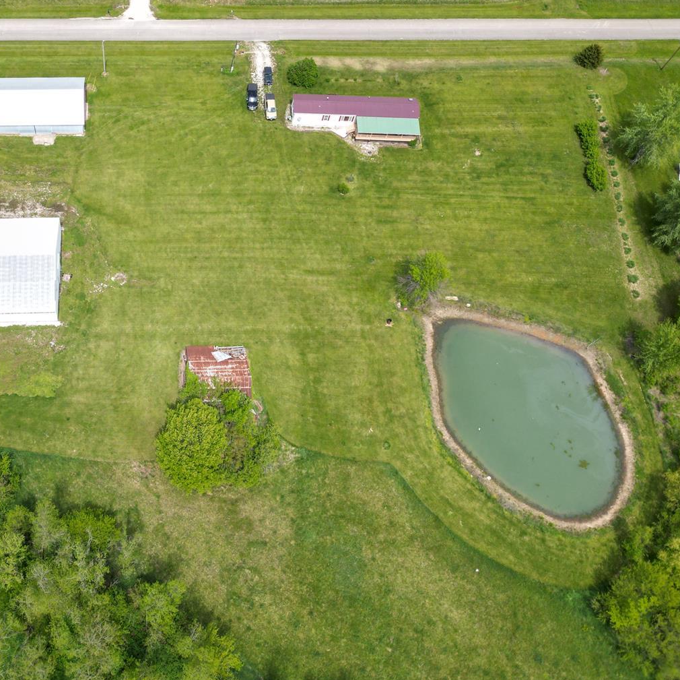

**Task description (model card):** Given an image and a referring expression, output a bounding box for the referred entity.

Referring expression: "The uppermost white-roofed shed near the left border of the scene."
[0,79,89,137]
